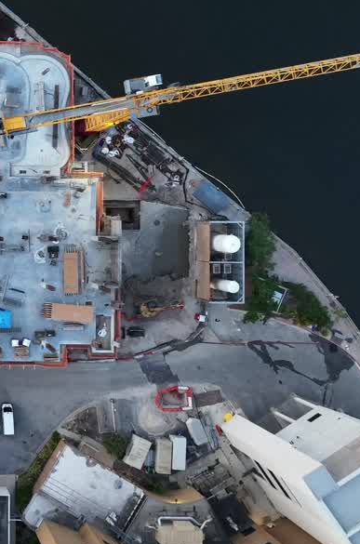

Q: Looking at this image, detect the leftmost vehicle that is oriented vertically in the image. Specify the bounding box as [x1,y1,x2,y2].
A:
[1,405,16,438]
